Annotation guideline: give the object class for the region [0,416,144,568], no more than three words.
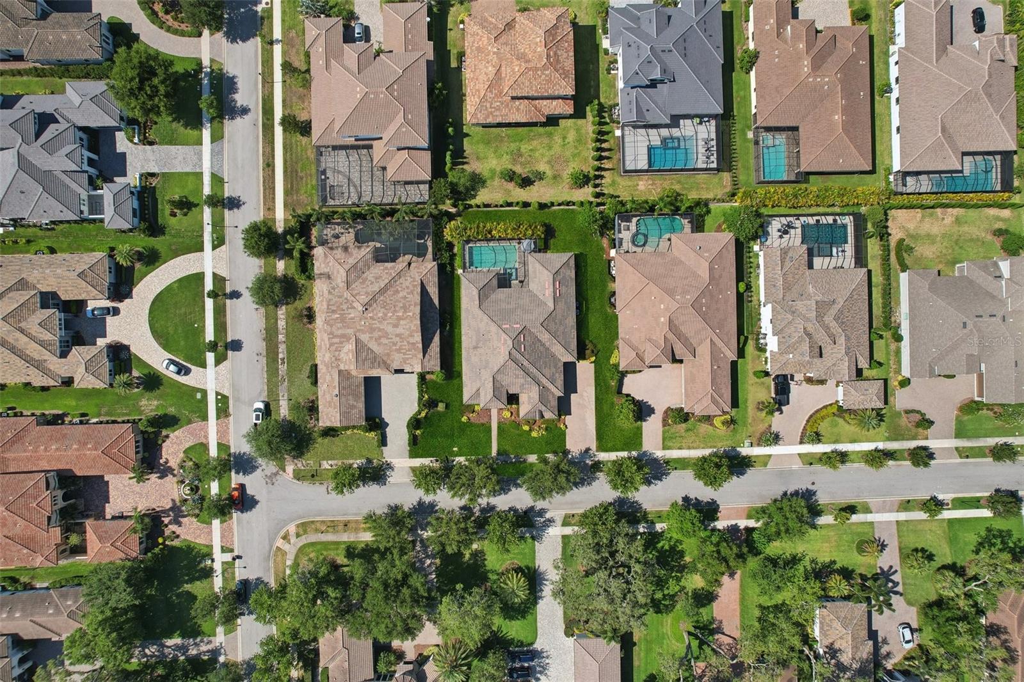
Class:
house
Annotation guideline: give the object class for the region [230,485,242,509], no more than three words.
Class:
vehicle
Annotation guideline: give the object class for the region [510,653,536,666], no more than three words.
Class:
vehicle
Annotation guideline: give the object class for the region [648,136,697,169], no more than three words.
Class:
swimming pool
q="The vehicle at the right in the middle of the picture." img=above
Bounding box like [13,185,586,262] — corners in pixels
[775,376,788,404]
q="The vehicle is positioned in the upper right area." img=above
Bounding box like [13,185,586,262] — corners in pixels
[973,5,988,31]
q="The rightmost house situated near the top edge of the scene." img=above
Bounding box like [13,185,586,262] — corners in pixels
[890,0,1018,173]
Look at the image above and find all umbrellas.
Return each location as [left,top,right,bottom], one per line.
[520,237,536,253]
[757,232,769,244]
